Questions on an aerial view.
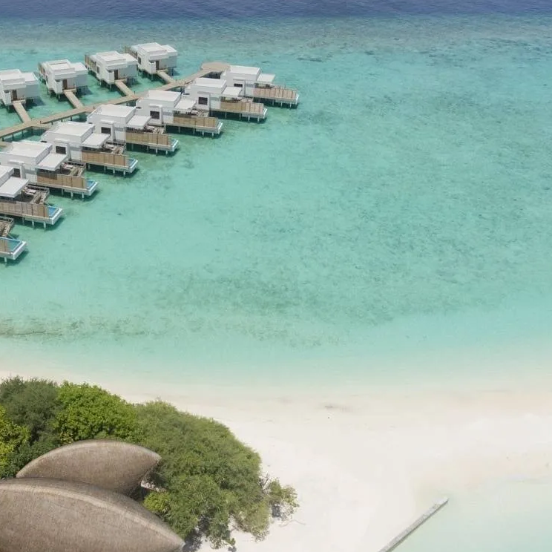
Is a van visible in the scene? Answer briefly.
No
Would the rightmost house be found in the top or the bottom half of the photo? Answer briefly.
top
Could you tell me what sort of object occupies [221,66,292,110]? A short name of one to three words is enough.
house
